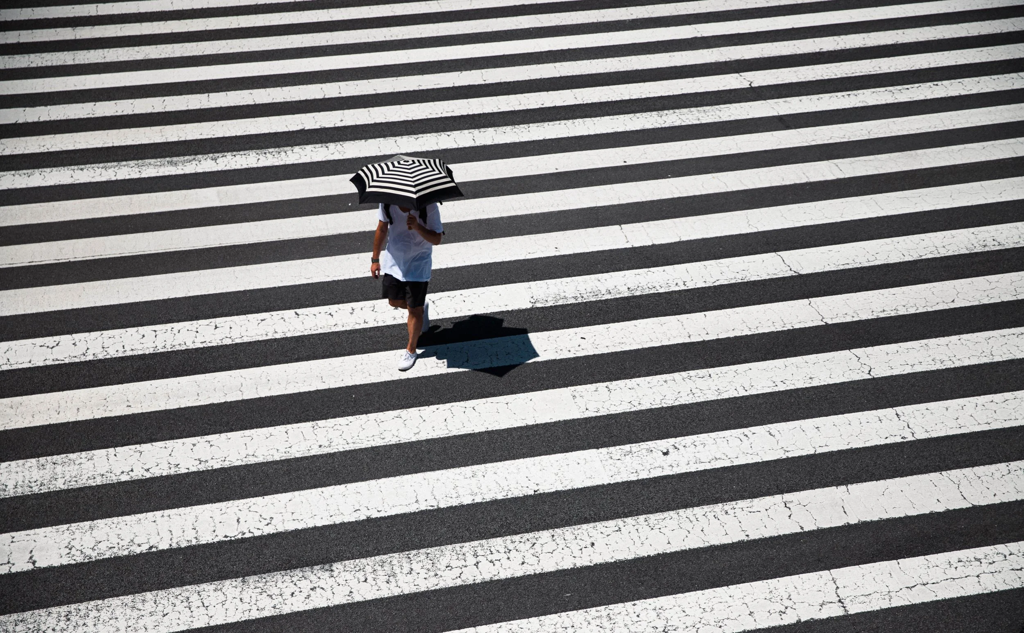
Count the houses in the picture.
none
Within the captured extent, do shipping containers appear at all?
No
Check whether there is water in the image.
No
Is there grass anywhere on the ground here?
No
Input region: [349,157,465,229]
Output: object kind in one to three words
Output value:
umbrella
